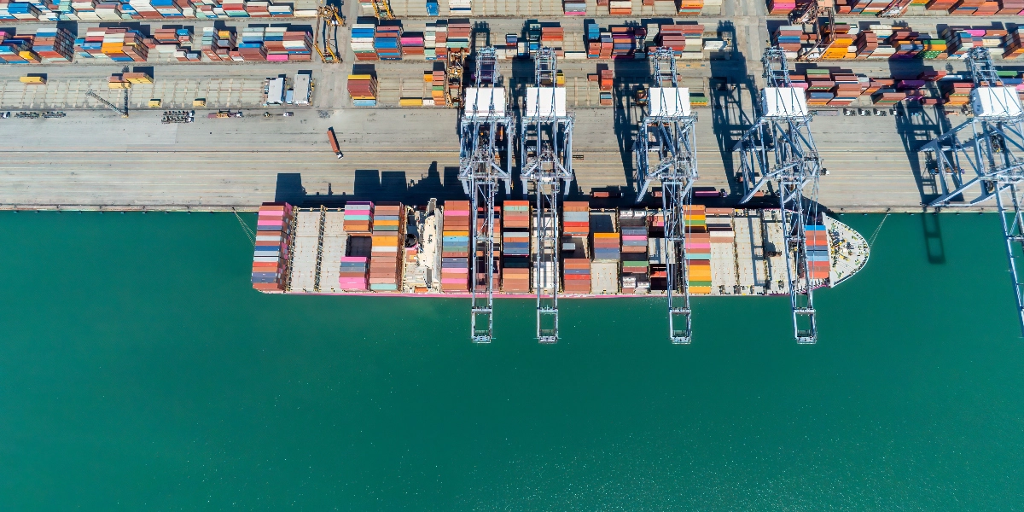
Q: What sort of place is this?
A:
port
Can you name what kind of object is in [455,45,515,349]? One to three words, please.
container crane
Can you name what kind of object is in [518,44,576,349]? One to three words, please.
container crane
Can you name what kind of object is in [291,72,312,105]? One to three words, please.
shed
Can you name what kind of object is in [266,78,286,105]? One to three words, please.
shed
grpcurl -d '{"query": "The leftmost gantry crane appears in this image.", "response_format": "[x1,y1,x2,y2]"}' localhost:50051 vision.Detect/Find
[312,3,345,64]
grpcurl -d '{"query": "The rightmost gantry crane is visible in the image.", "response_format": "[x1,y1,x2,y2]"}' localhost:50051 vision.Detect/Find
[917,42,1024,347]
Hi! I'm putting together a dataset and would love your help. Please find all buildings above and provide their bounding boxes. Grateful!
[266,78,286,105]
[291,72,312,105]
